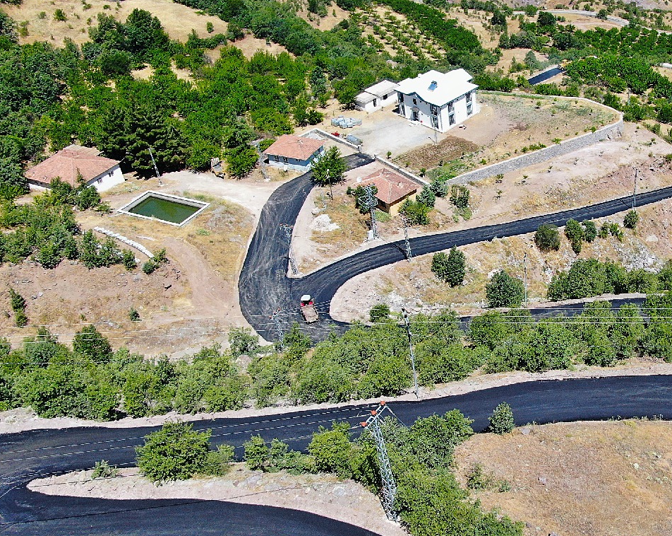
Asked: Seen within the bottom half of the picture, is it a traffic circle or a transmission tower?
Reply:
transmission tower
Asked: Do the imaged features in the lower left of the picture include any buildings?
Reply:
No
